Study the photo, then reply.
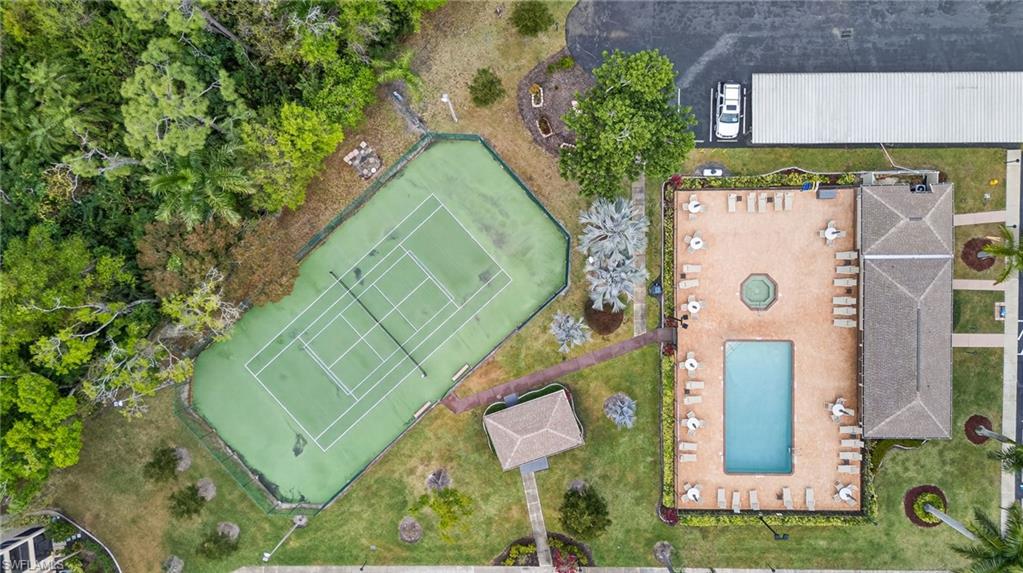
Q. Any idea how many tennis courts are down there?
1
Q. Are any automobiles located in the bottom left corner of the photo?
No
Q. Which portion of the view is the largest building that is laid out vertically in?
right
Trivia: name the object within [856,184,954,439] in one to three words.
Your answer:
building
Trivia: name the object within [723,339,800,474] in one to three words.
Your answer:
swimming pool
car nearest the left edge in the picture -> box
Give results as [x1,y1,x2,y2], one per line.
[714,83,741,140]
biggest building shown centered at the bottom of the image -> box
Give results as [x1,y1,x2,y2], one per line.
[484,388,584,470]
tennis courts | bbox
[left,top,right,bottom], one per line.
[193,139,568,505]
